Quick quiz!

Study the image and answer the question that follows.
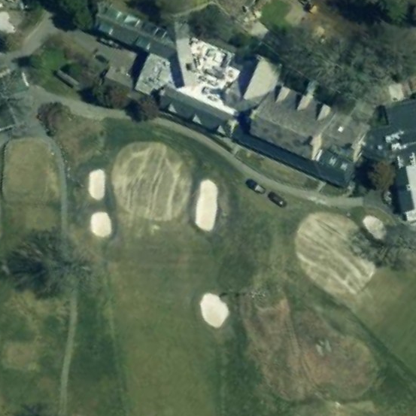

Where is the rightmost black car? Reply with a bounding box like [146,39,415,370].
[267,190,287,207]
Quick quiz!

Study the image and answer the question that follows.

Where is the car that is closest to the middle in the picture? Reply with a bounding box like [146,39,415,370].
[244,177,266,194]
